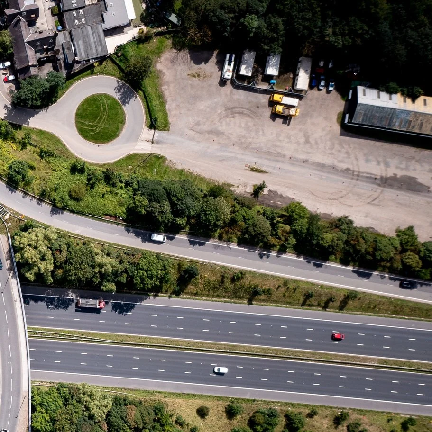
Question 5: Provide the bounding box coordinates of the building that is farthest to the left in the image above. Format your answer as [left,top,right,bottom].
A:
[0,0,54,81]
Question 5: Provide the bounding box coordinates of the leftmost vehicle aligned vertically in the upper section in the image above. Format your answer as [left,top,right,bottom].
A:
[219,52,233,81]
